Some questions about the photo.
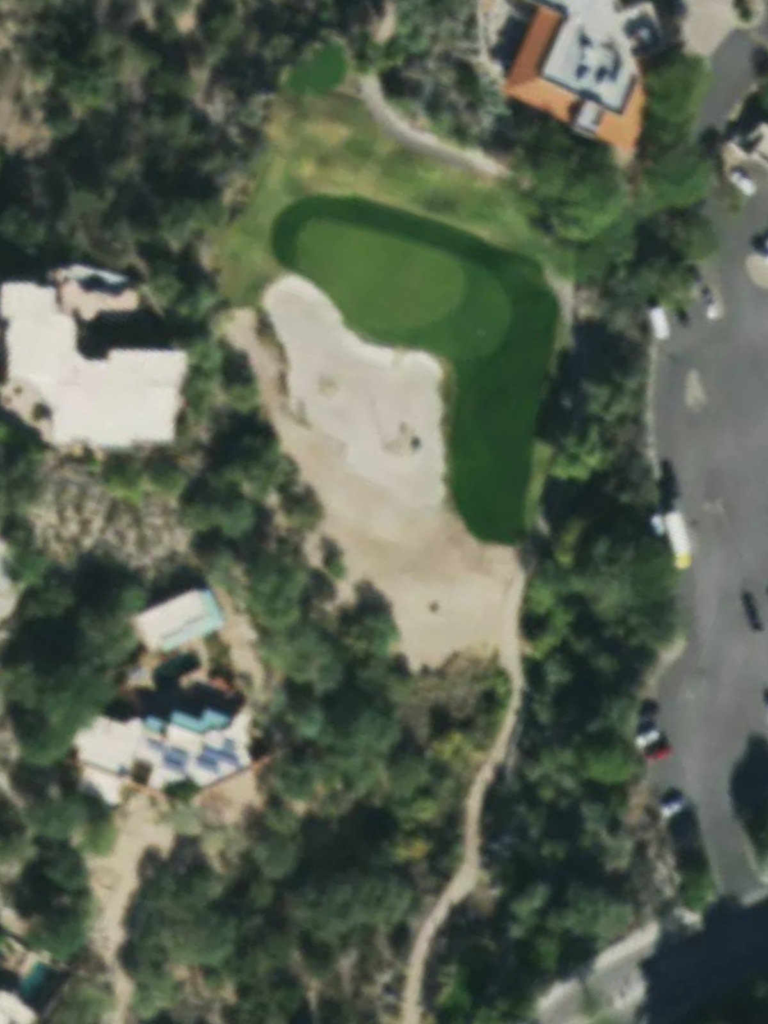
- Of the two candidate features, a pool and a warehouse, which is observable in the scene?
pool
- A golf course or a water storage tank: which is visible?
golf course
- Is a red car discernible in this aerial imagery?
Yes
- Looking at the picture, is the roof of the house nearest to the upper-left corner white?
Yes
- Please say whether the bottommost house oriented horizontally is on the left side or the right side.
left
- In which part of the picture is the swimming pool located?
bottom left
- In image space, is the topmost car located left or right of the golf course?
to the right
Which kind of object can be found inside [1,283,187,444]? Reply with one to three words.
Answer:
house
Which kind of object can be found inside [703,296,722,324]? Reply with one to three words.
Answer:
car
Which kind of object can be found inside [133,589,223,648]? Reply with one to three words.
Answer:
shed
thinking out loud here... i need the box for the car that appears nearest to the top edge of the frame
[729,169,757,196]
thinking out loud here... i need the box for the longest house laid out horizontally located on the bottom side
[75,707,254,805]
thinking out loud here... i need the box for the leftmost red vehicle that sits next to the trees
[644,743,673,764]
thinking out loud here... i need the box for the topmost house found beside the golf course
[506,0,646,147]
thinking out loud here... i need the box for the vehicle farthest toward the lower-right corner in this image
[659,797,686,818]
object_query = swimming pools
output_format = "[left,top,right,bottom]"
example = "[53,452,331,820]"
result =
[18,959,72,1021]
